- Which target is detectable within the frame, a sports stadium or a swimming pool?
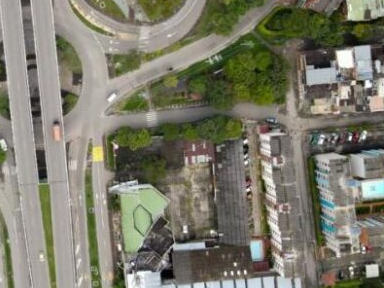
swimming pool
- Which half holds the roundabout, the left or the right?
left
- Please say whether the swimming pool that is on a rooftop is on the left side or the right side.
right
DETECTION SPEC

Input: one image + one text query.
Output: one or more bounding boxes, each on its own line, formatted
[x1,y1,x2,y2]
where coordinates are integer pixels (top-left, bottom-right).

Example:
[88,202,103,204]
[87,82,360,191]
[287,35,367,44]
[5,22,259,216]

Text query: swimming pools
[251,236,273,262]
[360,178,384,200]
